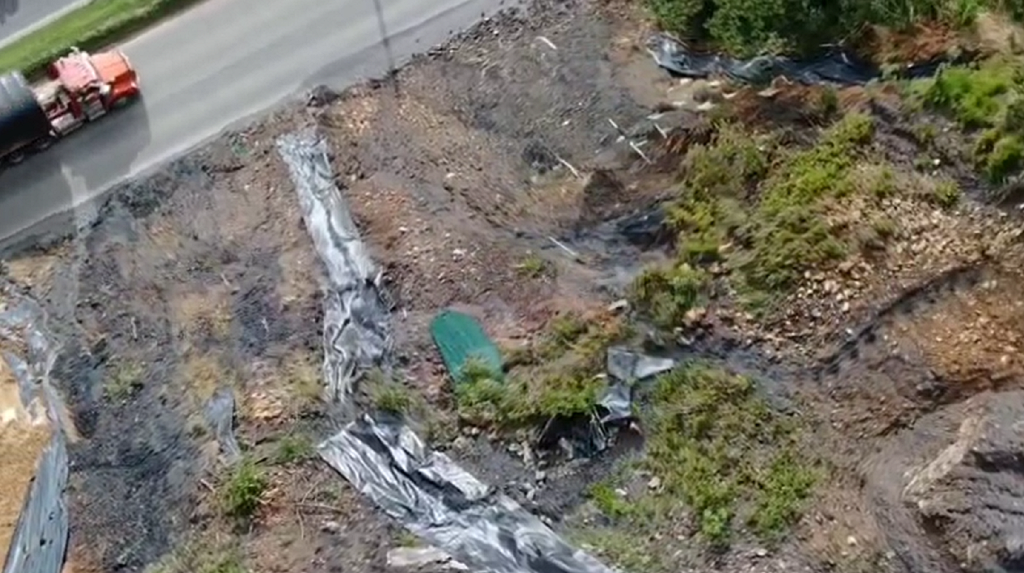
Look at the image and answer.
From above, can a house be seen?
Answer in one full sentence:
No, no house can be seen from above.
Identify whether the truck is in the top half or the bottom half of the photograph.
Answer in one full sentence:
Seen from above, the truck lies in the top half of the view.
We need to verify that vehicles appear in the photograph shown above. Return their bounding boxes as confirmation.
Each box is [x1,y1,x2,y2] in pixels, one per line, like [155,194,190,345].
[0,46,139,158]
